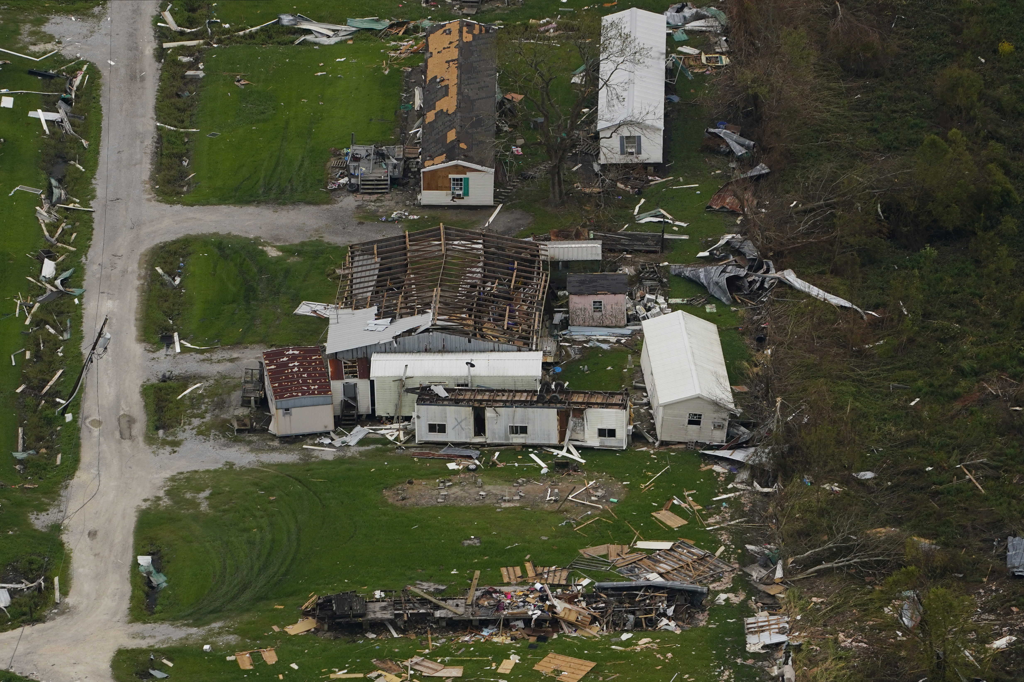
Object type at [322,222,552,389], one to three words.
barn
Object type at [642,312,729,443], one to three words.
house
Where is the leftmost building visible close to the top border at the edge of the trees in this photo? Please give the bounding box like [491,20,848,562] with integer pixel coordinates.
[420,18,497,206]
